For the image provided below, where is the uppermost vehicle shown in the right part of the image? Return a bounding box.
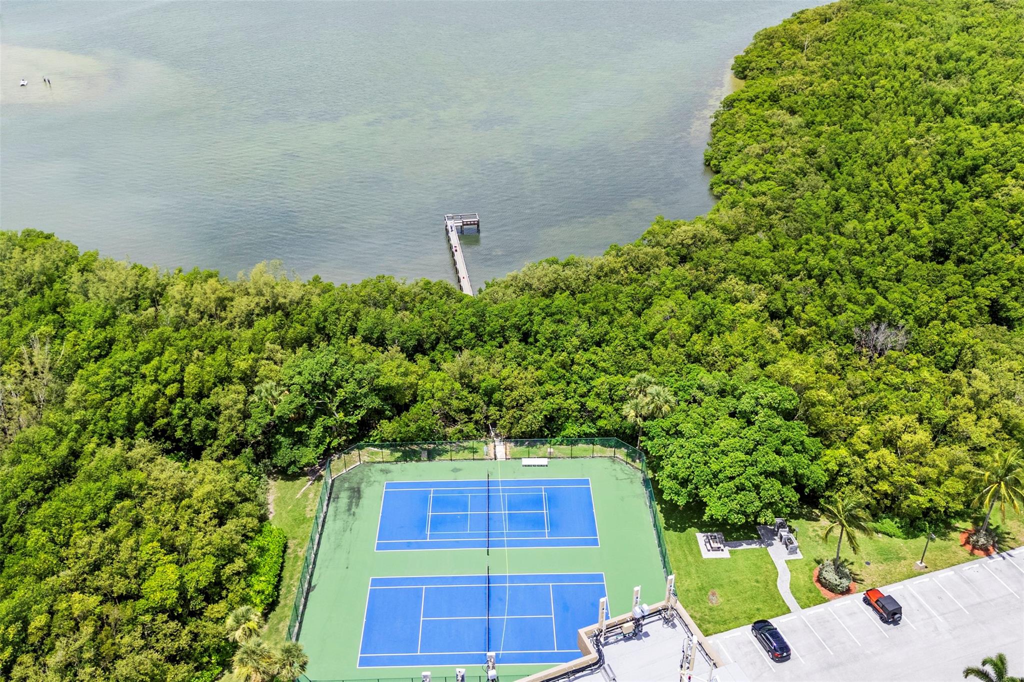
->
[861,589,903,625]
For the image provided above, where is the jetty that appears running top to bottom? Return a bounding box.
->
[445,210,478,314]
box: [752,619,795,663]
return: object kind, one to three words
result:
car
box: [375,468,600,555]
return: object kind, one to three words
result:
tennis court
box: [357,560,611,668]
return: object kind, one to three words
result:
tennis court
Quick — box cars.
[861,589,903,625]
[752,619,795,663]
